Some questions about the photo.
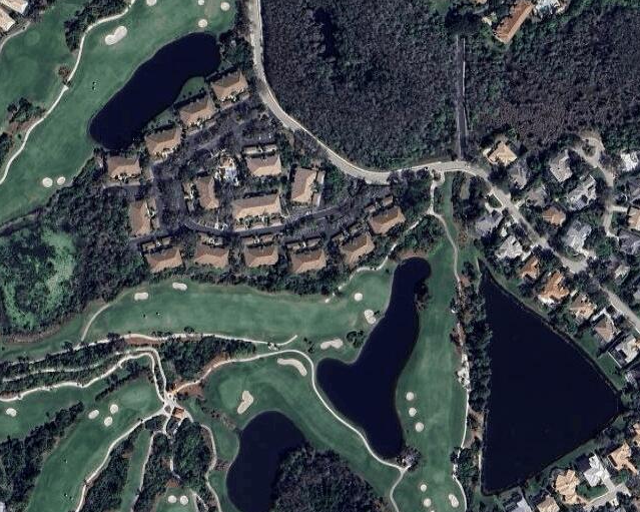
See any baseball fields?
No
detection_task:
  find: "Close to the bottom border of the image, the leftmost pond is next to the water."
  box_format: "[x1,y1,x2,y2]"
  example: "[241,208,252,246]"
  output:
[227,411,307,512]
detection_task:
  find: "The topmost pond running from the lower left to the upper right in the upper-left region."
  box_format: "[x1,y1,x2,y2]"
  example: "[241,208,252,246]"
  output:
[90,32,221,149]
